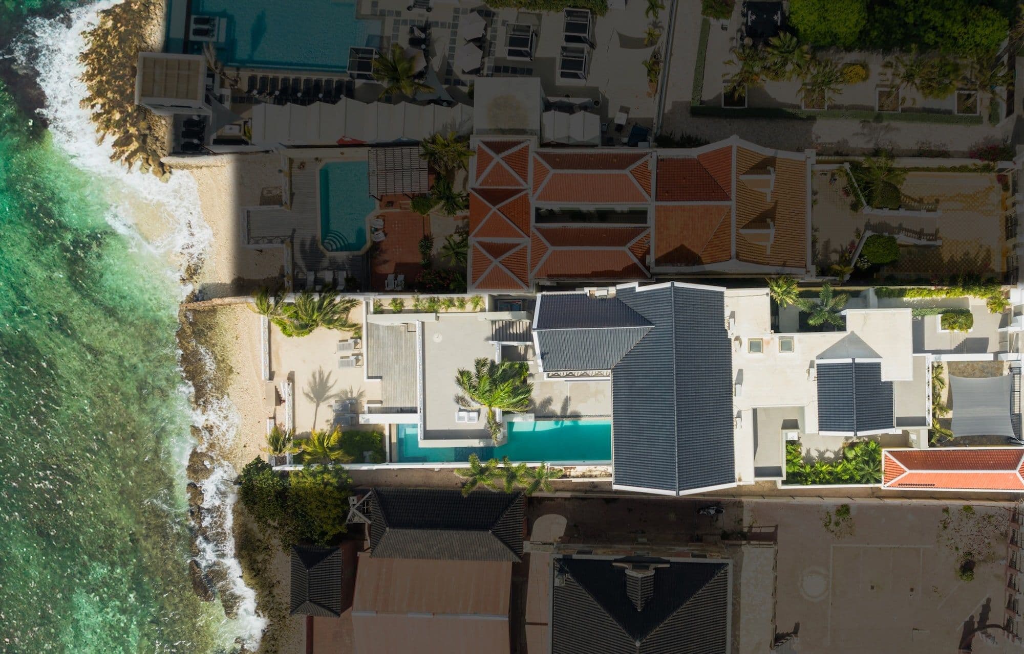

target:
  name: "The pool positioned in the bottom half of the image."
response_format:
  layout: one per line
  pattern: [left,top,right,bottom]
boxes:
[398,416,613,463]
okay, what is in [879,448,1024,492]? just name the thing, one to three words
house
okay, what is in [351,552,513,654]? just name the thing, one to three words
shed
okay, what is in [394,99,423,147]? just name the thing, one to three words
tent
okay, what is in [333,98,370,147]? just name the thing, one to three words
tent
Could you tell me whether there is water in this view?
Yes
